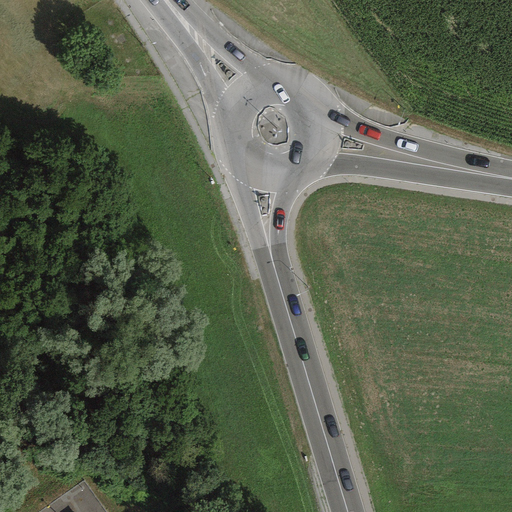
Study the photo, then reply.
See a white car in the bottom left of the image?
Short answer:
No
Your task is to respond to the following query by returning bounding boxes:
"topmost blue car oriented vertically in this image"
[289,294,301,316]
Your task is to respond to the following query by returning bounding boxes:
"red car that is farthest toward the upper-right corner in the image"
[359,125,382,138]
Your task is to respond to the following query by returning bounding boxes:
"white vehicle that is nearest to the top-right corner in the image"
[396,138,420,152]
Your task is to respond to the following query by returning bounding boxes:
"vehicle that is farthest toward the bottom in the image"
[340,468,353,492]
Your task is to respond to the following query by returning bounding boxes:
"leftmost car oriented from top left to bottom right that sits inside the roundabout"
[274,83,291,104]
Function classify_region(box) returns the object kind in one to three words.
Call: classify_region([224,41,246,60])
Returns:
car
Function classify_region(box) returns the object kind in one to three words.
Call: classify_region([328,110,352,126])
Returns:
car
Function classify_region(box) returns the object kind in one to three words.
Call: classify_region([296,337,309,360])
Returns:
vehicle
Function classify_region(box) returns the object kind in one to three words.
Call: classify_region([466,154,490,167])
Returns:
vehicle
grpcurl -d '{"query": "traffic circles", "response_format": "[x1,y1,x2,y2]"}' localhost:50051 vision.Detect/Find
[197,60,344,262]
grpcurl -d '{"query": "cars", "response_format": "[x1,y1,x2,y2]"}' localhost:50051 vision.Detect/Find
[292,140,302,164]
[276,208,286,230]
[296,337,309,360]
[326,414,338,438]
[340,468,353,492]
[274,83,291,104]
[359,125,382,138]
[224,41,246,60]
[328,110,352,126]
[466,154,490,167]
[289,294,301,316]
[396,138,420,152]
